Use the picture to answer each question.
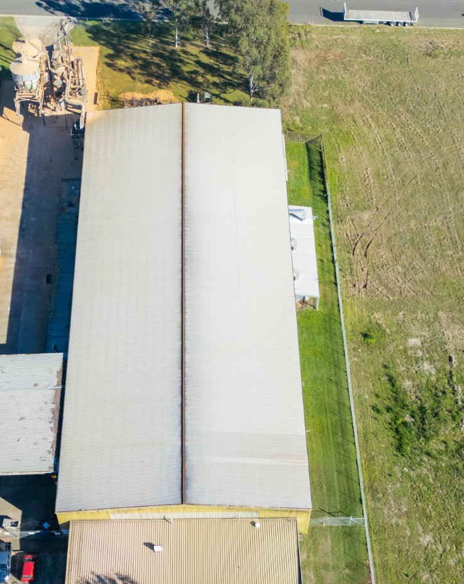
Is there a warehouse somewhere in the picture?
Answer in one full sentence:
Yes, there's a warehouse down there.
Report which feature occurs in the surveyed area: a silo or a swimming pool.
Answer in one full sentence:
This aerial view contains a silo.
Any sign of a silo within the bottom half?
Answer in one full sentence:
No, no silo appears within the bottom half.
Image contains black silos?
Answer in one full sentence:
No, I find no black silo anywhere in the image.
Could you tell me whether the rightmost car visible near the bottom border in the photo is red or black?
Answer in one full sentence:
The rightmost car visible near the bottom border looks red in the image.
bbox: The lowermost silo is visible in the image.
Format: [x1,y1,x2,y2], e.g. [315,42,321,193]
[10,56,48,125]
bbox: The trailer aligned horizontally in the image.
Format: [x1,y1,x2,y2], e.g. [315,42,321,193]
[344,4,421,30]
